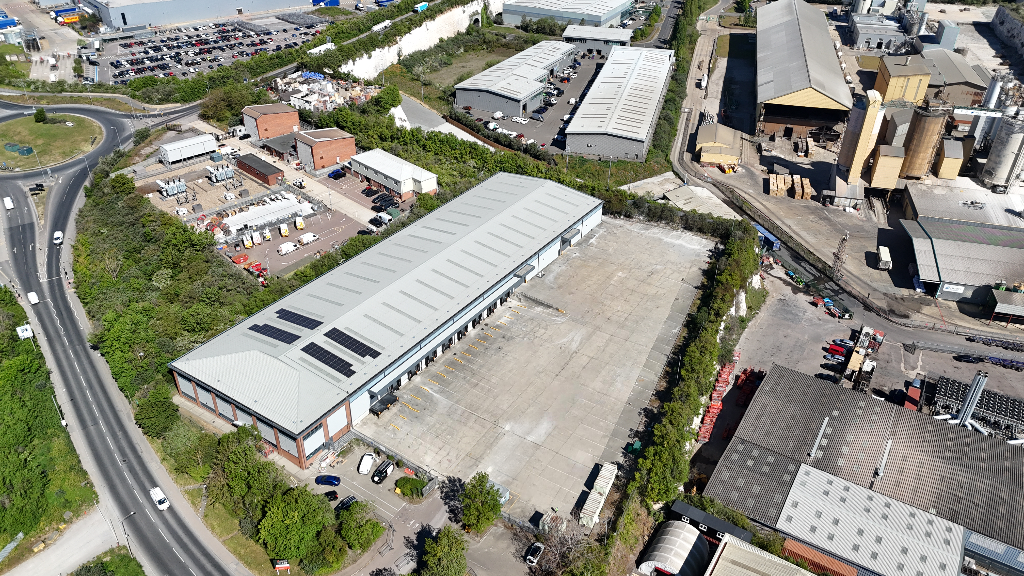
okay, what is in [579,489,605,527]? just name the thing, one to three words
shipping container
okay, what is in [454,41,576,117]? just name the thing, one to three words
shed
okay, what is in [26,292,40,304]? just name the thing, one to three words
vehicle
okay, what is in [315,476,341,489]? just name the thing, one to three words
vehicle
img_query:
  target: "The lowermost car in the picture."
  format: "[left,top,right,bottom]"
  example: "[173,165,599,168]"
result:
[526,543,543,565]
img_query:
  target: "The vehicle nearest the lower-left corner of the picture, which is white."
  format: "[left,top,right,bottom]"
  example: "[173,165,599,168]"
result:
[146,484,168,511]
